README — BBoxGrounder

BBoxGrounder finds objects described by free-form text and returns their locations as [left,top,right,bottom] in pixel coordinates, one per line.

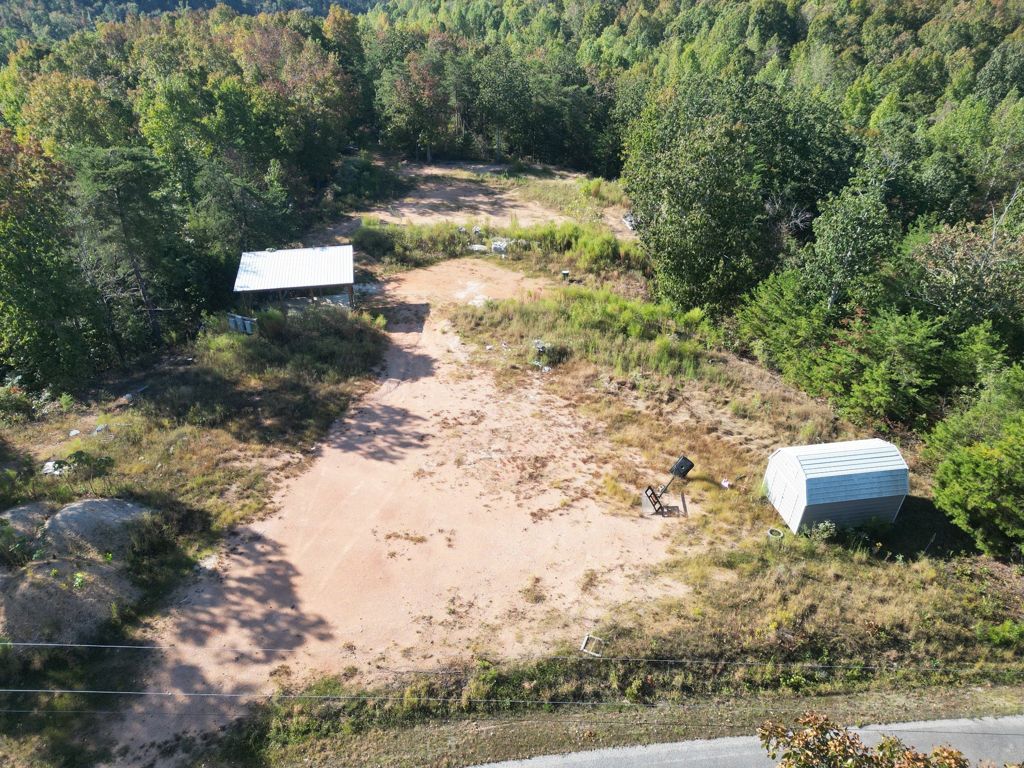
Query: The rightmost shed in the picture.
[762,434,912,535]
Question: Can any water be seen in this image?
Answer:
No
